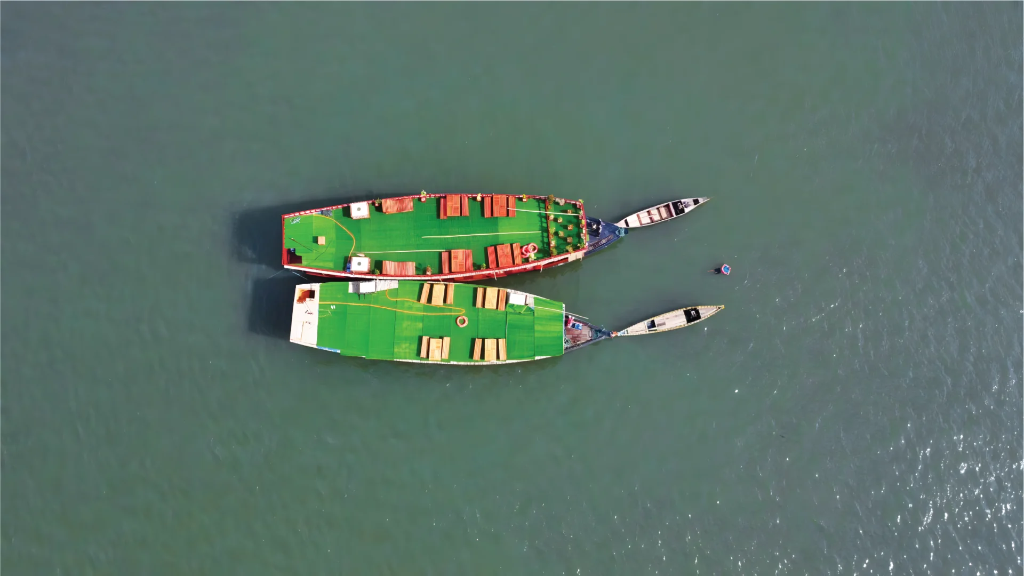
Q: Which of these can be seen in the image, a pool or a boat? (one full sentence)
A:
Of the two, only a boat appears.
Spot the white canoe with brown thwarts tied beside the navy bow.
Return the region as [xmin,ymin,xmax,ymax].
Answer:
[616,196,712,228]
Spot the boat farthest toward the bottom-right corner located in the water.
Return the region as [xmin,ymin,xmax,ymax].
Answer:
[619,305,725,335]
